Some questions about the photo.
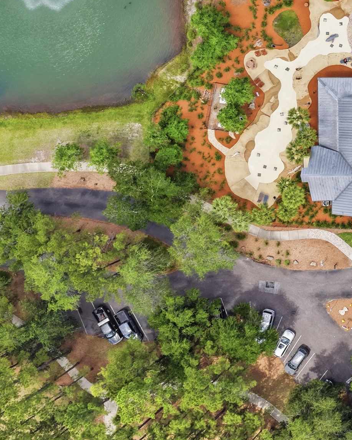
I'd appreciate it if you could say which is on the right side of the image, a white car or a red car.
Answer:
white car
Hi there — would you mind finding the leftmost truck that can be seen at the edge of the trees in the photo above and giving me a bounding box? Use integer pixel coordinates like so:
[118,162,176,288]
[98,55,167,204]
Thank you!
[91,305,121,344]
